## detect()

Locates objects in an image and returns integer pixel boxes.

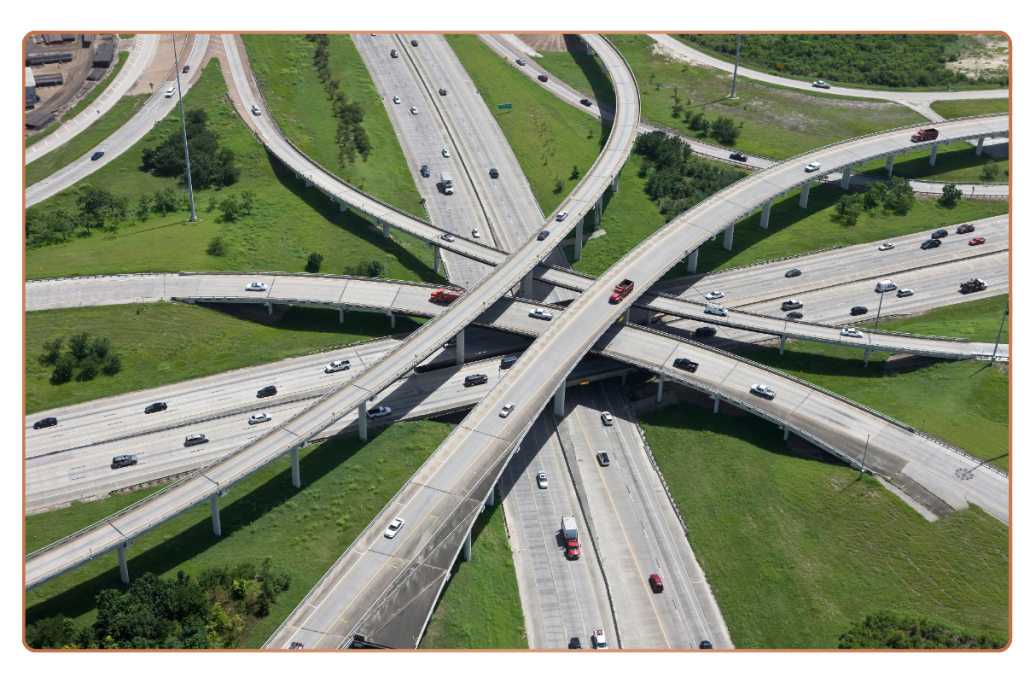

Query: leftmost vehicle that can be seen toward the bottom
[33,416,57,430]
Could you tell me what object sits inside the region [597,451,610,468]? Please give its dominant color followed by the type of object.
gray vehicle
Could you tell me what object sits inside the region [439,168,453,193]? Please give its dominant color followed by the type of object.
white vehicle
